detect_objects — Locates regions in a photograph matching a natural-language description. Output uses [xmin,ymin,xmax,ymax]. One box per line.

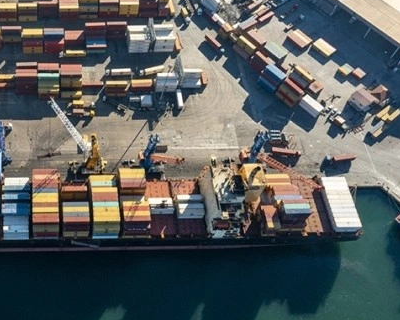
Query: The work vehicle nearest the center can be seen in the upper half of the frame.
[160,97,178,116]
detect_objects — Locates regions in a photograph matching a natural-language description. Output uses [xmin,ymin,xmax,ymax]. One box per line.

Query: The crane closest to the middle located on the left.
[128,141,187,177]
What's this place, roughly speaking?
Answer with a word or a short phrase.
port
